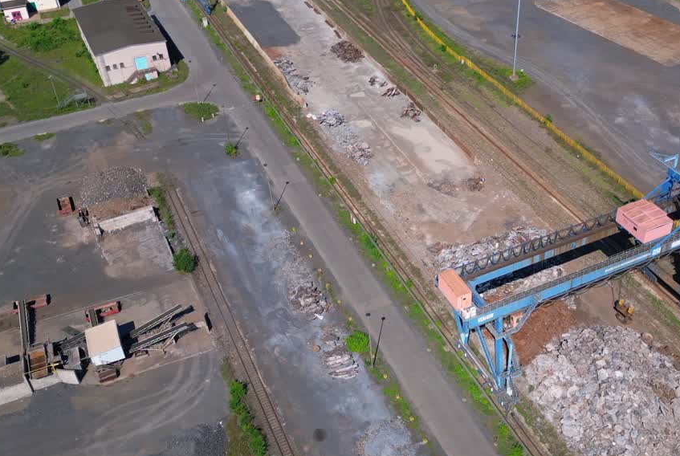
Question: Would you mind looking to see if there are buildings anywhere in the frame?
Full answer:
Yes, the frame does contain a building.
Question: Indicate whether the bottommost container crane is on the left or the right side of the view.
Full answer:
The bottommost container crane appears in the right half of the scene.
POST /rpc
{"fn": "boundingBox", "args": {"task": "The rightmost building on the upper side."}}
[74,0,170,85]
